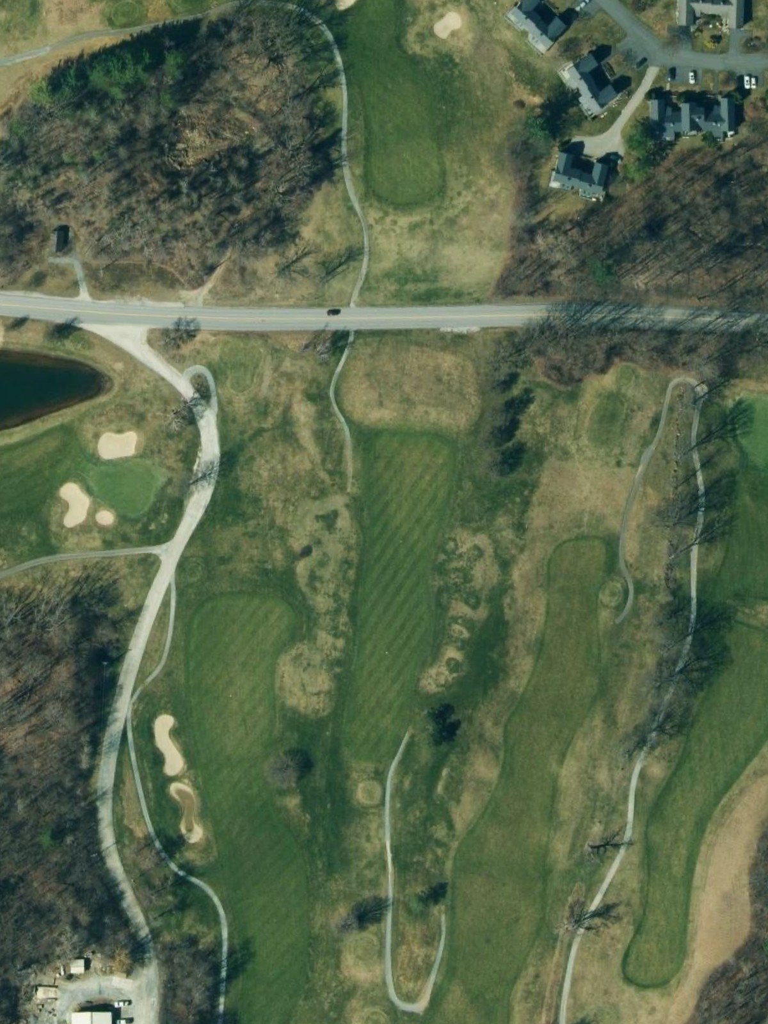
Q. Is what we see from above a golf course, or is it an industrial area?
golf course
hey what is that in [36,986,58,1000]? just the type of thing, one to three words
shed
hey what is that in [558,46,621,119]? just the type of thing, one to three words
house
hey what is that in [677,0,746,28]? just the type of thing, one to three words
house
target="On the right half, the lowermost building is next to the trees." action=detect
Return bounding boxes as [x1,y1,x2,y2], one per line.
[550,150,610,202]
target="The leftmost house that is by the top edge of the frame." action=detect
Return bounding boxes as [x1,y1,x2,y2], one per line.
[505,0,570,56]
